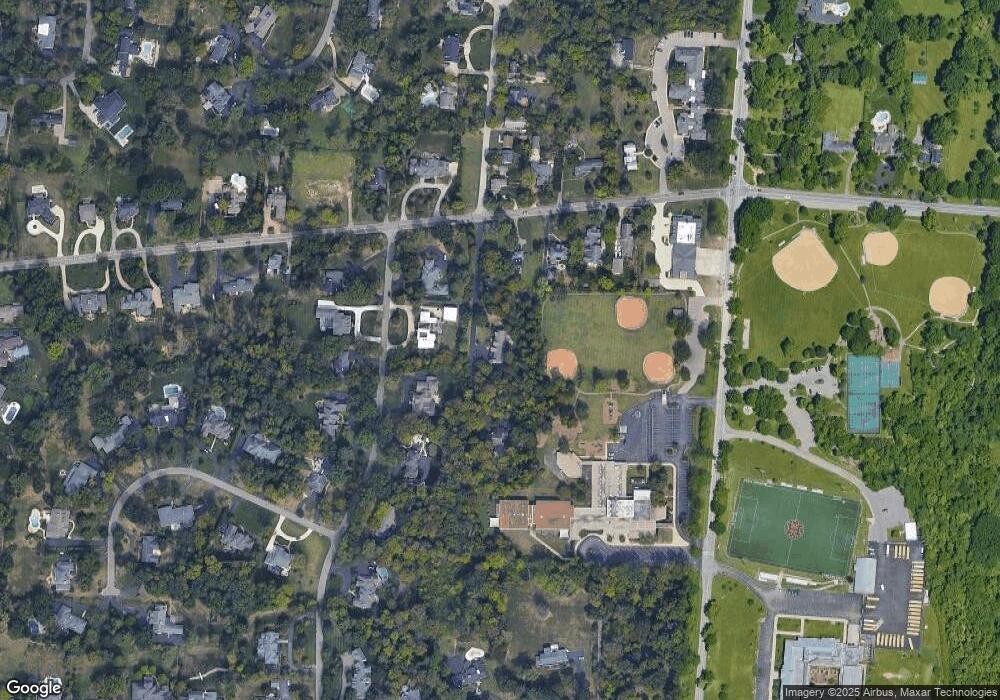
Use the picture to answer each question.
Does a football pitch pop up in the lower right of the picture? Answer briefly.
Yes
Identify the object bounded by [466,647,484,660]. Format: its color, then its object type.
white swimming pool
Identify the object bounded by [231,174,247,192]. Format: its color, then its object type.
white swimming pool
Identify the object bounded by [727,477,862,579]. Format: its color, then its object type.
green soccer field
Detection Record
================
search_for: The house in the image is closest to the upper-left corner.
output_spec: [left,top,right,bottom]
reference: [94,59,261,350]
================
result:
[37,16,57,56]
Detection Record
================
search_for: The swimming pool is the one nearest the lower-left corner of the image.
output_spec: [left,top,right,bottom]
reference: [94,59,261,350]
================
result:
[28,617,45,635]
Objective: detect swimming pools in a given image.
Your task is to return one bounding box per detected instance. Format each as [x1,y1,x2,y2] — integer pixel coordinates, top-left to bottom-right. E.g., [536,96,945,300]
[28,617,45,635]
[164,385,182,397]
[378,567,389,582]
[231,174,247,192]
[466,647,484,660]
[421,87,438,105]
[834,2,850,17]
[2,400,20,424]
[28,509,40,533]
[871,110,891,132]
[141,39,159,65]
[114,122,134,141]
